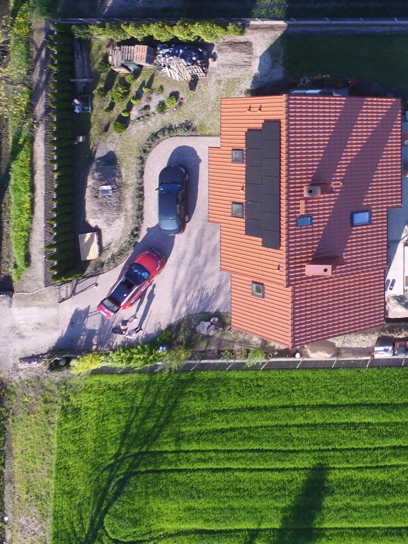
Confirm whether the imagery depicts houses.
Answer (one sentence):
Yes, there is a house in the image.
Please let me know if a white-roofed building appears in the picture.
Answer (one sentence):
No, there isn't any white-roofed building down there.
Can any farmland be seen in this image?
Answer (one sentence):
Yes, farmland shows up in the scene.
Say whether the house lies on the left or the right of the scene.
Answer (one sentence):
The house is on the right side of the image.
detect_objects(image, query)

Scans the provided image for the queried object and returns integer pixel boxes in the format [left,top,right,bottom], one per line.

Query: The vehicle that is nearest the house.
[150,164,188,236]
